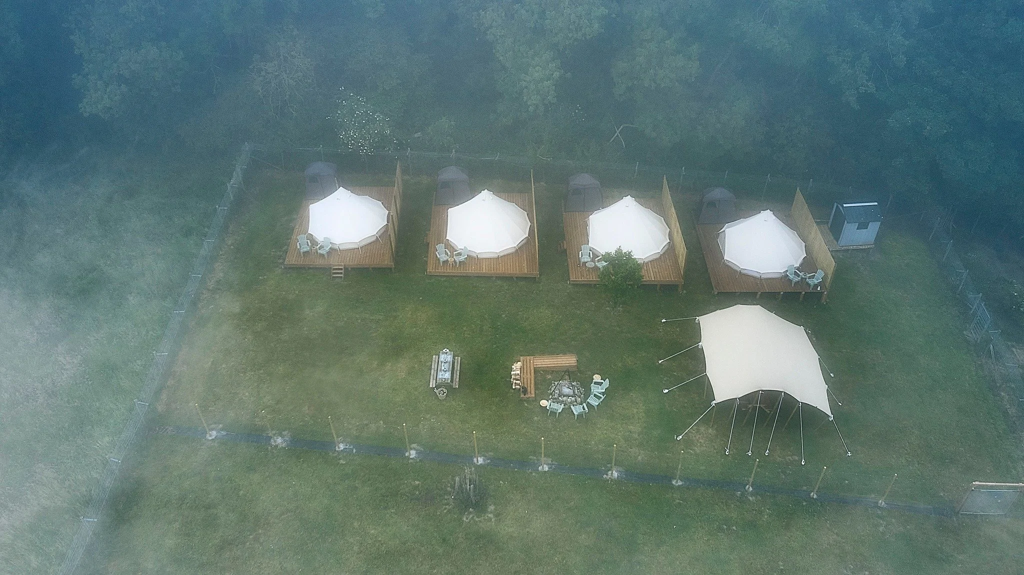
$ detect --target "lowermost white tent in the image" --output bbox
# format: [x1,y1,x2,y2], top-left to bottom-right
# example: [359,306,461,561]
[658,305,852,465]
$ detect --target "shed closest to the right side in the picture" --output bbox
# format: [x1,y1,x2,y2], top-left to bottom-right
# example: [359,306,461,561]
[826,198,885,246]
